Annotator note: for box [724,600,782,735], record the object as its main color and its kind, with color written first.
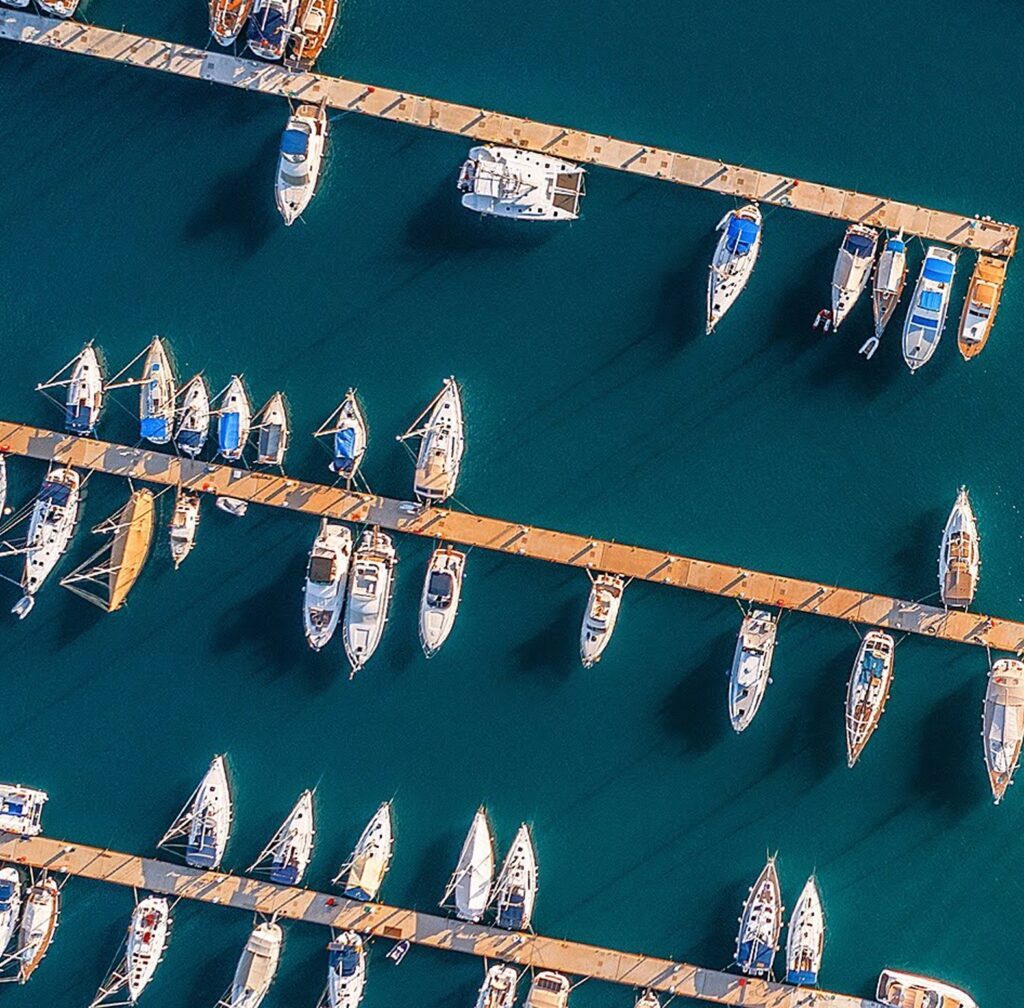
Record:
white boat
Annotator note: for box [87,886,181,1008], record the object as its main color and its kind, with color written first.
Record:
white boat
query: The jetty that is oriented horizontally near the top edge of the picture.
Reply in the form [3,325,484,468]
[0,7,1019,256]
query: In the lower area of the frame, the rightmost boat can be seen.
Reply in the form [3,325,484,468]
[980,647,1024,807]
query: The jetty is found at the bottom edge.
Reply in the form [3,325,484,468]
[0,829,904,1008]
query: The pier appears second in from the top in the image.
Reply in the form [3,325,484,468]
[0,421,1024,653]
